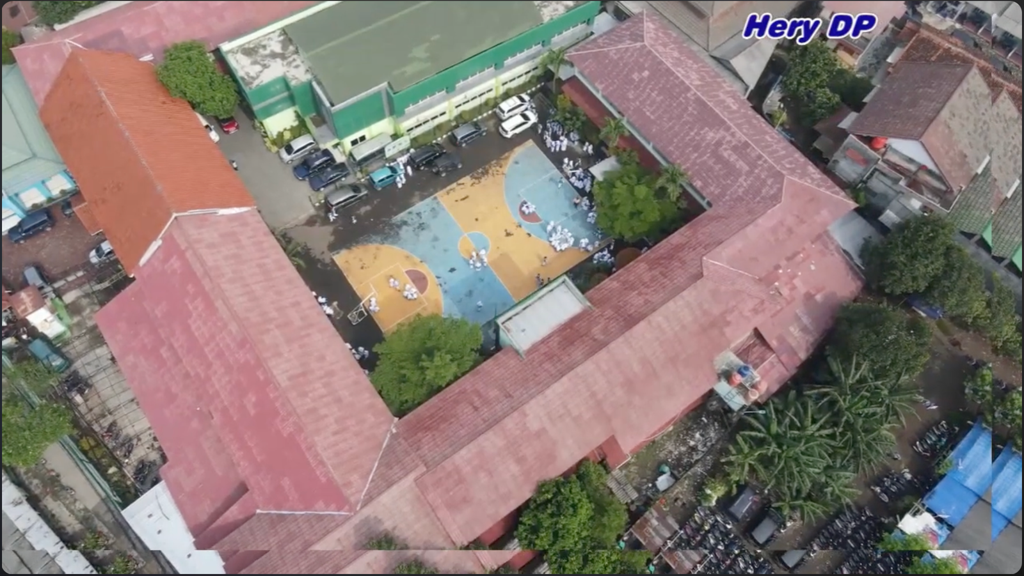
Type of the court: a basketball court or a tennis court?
basketball court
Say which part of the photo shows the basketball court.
center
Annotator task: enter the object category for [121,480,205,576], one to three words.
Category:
shed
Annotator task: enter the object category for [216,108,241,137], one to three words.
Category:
car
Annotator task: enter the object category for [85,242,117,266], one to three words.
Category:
car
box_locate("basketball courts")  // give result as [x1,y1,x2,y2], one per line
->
[330,140,614,339]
